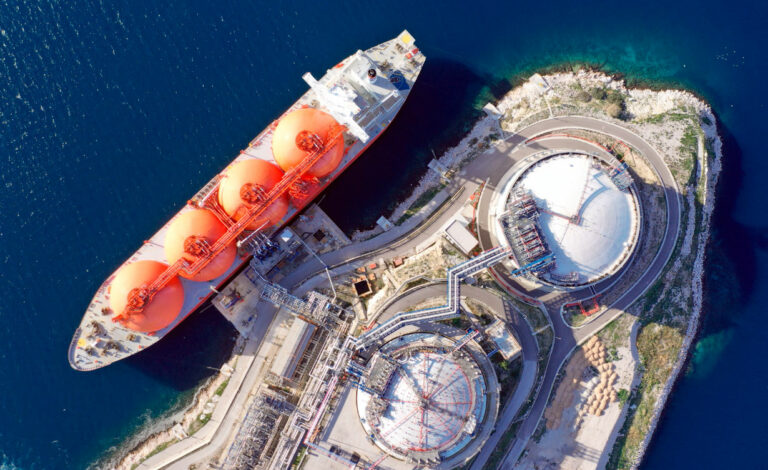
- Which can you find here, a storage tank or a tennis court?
storage tank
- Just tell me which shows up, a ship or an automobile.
ship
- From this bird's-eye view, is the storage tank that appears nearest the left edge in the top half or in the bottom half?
bottom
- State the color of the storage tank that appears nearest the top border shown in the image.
white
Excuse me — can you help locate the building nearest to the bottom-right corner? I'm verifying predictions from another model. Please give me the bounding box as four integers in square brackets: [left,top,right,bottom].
[479,314,522,361]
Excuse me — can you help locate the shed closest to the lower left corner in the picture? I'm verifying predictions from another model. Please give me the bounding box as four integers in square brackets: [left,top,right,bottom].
[268,315,316,380]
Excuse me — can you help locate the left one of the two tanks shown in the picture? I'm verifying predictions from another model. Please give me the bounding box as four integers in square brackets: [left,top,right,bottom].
[357,317,503,470]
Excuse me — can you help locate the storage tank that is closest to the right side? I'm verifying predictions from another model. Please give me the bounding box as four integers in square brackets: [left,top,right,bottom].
[486,148,641,292]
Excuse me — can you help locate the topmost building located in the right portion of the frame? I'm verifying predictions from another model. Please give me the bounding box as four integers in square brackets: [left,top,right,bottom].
[444,220,478,253]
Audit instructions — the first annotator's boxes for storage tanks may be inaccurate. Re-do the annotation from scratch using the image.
[486,148,641,292]
[357,317,503,470]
